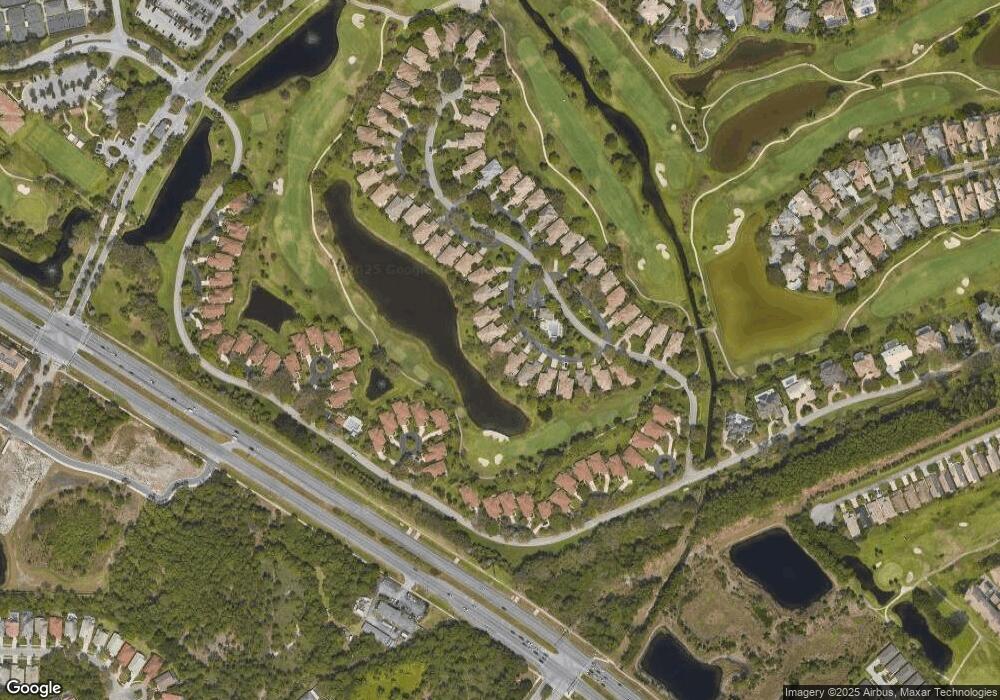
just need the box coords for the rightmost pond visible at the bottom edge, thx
[894,602,952,671]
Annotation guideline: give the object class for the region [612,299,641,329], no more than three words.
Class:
house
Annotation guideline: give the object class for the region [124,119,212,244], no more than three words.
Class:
pond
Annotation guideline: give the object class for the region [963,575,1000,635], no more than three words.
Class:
building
